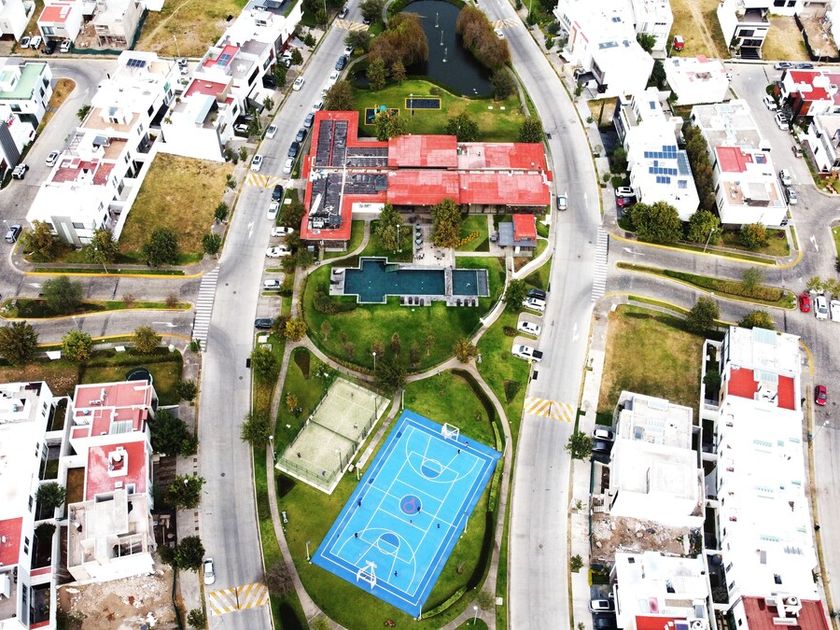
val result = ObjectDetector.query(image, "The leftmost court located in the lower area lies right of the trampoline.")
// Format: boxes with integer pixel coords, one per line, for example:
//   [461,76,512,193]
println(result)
[274,368,391,495]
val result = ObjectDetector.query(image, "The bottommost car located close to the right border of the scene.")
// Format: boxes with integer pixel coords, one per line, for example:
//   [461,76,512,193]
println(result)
[815,386,828,407]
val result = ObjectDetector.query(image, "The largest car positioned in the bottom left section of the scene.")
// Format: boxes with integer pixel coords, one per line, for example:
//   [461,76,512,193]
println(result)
[202,557,216,587]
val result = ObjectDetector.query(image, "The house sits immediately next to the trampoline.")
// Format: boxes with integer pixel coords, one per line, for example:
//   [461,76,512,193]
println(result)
[70,381,161,456]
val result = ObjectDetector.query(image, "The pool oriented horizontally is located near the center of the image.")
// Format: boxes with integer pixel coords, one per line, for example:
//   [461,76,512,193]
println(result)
[330,256,490,306]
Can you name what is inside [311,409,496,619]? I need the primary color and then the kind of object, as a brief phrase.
blue basketball court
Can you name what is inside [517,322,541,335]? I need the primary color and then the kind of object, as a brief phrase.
white vehicle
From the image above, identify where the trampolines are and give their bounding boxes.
[121,358,149,381]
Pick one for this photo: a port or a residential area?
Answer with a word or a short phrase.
residential area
